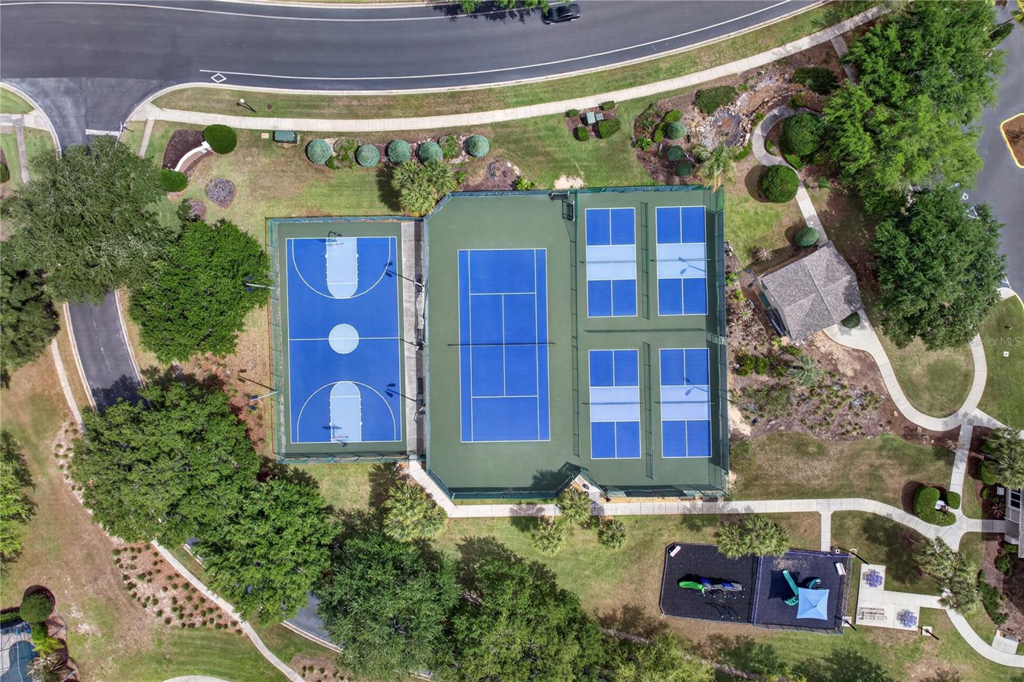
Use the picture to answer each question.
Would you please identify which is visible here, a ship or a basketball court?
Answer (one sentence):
Looking from above, you can make out a basketball court.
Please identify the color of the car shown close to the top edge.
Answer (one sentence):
The car shown close to the top edge looks black in the image.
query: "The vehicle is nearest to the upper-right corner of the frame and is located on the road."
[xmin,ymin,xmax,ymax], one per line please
[541,3,580,25]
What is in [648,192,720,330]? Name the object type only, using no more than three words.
sports court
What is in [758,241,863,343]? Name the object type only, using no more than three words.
shed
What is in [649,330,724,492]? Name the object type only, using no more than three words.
sports court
